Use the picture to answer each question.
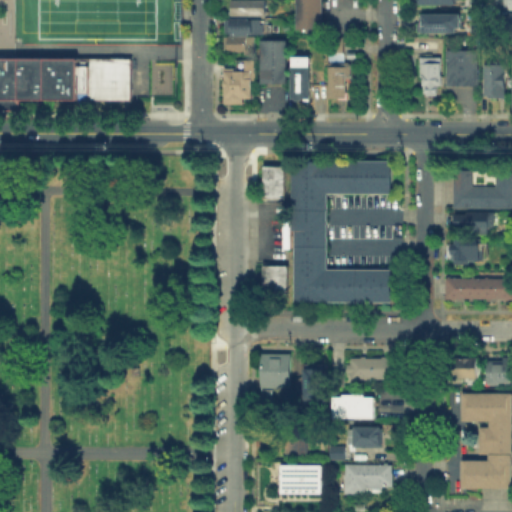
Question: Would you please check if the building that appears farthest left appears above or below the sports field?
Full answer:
The building that appears farthest left appears below the sports field in the picture.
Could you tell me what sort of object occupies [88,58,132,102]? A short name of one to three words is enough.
building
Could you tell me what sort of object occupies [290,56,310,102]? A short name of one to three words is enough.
building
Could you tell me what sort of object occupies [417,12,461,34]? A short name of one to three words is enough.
house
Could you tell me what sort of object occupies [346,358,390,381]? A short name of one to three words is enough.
house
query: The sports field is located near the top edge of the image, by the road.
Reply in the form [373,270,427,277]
[16,0,183,46]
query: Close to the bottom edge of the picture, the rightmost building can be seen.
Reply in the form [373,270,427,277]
[462,394,512,490]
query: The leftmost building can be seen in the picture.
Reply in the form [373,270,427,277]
[0,59,76,102]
